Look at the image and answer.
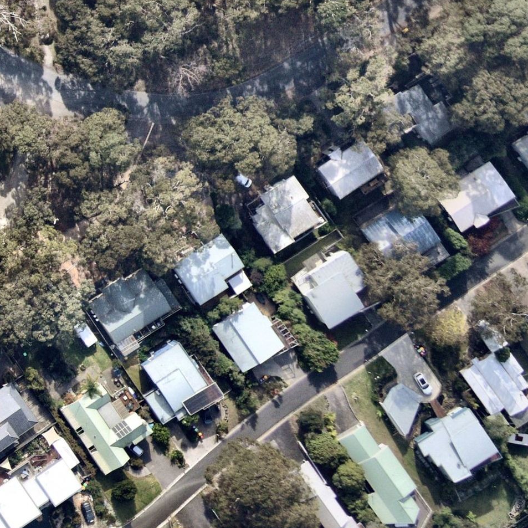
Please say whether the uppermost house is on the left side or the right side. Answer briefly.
right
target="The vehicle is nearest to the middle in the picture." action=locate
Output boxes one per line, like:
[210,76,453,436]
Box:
[254,286,267,306]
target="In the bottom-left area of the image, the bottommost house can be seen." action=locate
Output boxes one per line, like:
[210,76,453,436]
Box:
[0,437,83,528]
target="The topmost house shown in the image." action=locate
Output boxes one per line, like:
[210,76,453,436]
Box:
[395,77,452,141]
